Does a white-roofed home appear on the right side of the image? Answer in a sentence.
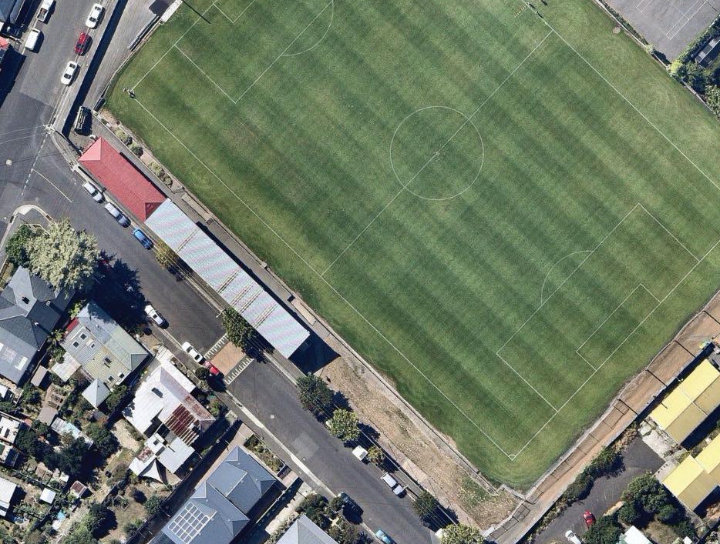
Yes, you'll find a white-roofed home on the right side of the image.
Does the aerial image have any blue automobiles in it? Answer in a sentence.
Yes, the frame does contain a blue automobile.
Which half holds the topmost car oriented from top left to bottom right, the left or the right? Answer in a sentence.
The topmost car oriented from top left to bottom right is on the left side of the image.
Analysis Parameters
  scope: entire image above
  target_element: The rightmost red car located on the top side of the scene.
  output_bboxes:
[75,32,90,54]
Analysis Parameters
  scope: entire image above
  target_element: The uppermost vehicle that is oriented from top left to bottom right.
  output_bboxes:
[83,180,105,203]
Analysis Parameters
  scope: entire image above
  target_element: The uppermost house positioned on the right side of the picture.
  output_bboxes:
[651,359,720,445]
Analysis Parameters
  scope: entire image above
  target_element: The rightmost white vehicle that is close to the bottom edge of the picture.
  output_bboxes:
[564,527,585,544]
